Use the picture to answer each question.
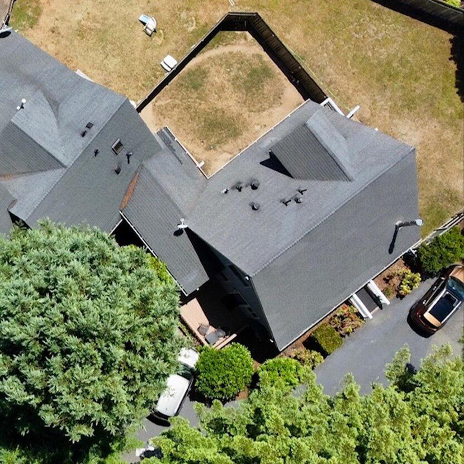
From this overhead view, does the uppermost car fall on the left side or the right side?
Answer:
right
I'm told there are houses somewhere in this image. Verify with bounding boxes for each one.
[181,99,426,352]
[0,19,166,255]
